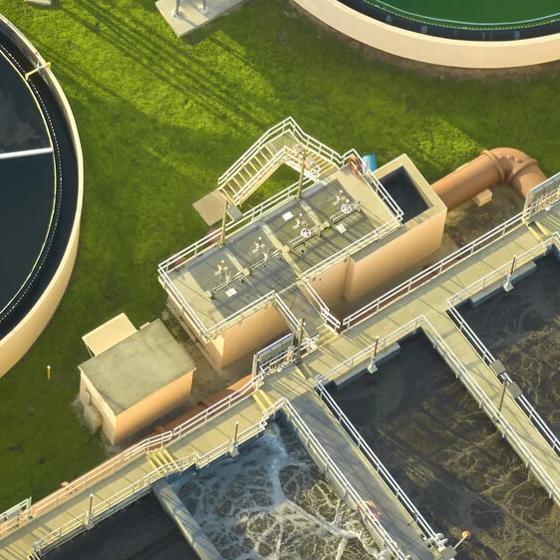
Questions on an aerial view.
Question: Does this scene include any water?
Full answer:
Yes, some water is visible.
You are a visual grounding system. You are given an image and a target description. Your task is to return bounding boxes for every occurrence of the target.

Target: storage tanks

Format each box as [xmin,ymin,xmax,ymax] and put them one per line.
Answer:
[0,15,84,381]
[292,0,560,69]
